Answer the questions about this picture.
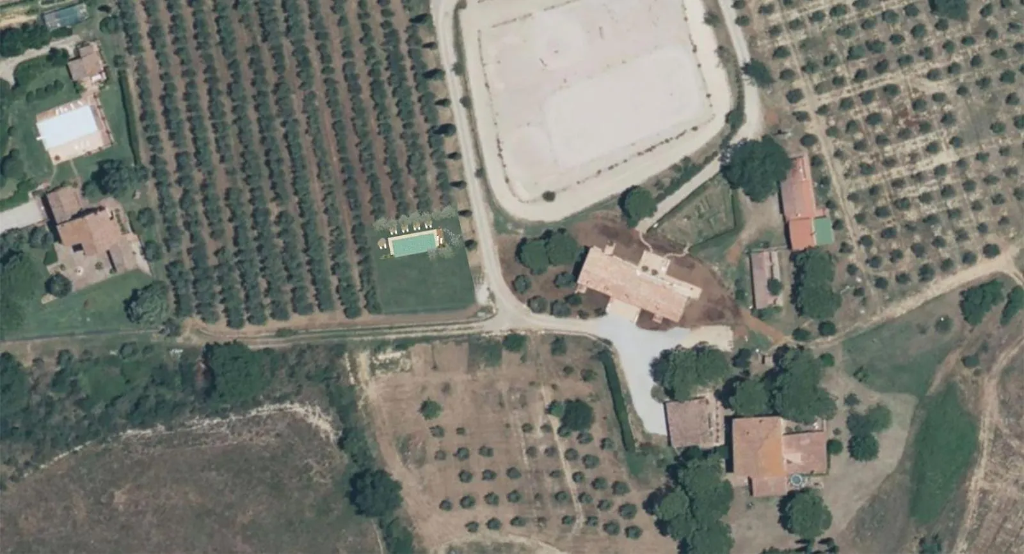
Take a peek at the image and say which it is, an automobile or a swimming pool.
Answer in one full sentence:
There is a swimming pool in the scene.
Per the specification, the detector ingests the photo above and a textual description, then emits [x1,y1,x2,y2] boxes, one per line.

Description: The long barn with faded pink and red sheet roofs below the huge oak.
[781,156,826,220]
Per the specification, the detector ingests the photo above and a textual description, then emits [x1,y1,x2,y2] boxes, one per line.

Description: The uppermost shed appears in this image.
[44,3,88,27]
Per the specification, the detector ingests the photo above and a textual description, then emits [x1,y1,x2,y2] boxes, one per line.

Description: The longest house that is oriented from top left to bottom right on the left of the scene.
[47,186,129,271]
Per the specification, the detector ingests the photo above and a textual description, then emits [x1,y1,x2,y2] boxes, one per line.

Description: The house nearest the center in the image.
[575,243,702,324]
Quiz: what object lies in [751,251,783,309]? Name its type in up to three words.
shed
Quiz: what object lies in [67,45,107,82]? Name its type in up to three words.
building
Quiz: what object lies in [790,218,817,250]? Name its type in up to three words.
barn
